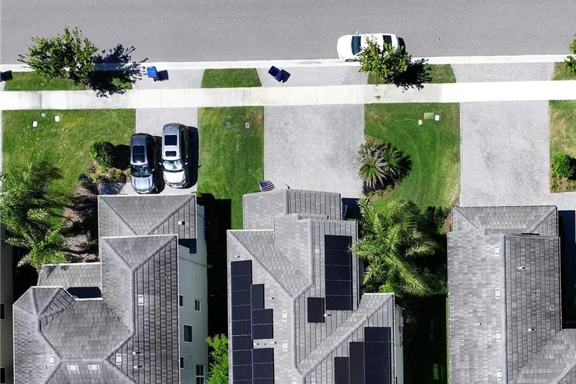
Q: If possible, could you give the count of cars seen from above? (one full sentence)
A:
The number of cars here is 3.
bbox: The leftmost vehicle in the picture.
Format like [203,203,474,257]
[124,134,159,193]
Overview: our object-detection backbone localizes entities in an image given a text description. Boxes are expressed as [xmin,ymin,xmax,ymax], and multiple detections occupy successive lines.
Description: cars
[339,31,401,63]
[155,124,191,191]
[124,134,159,193]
